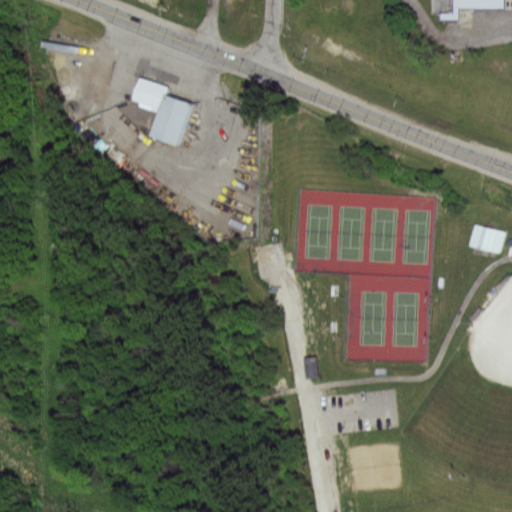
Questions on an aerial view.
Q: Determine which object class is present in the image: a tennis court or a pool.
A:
tennis court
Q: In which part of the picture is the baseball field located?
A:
bottom right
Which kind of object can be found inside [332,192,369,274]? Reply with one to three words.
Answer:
tennis court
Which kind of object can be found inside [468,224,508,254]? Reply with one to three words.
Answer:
shed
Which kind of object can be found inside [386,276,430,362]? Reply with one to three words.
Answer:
tennis court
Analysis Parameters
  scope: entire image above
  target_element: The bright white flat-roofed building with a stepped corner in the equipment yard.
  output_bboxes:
[132,76,170,113]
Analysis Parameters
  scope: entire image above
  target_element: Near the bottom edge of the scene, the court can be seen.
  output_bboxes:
[350,444,402,490]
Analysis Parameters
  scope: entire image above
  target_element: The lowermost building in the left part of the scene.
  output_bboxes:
[150,96,194,146]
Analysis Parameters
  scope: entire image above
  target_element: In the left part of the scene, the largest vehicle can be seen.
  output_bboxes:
[39,42,91,54]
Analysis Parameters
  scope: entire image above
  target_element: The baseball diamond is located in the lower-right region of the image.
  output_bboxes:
[400,274,512,485]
